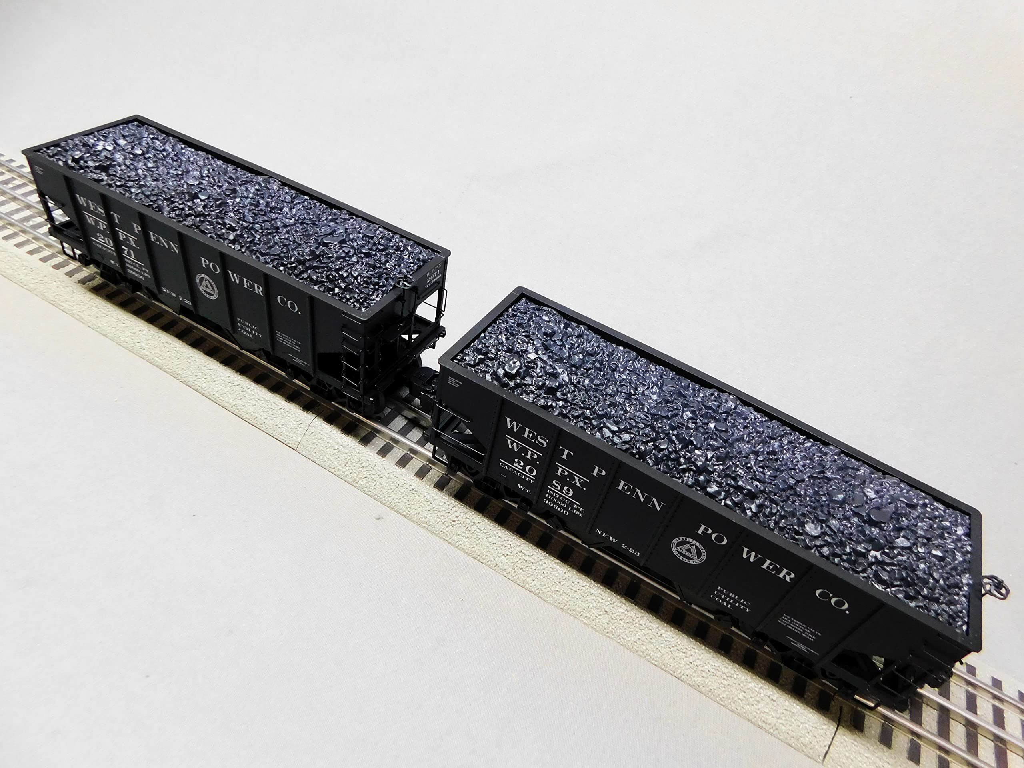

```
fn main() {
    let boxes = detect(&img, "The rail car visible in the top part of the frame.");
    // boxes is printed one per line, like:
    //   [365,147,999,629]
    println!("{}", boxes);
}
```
[22,114,449,421]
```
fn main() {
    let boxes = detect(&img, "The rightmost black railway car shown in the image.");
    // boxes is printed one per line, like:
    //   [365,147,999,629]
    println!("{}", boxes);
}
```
[419,289,1011,716]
